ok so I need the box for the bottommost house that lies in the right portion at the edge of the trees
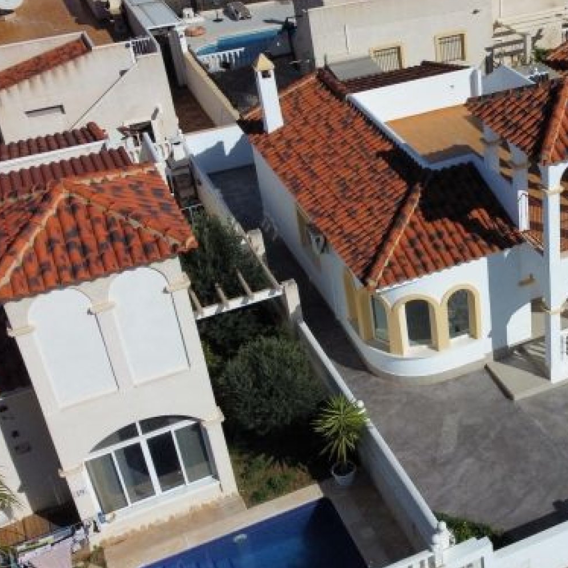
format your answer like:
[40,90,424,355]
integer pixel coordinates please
[233,50,568,402]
